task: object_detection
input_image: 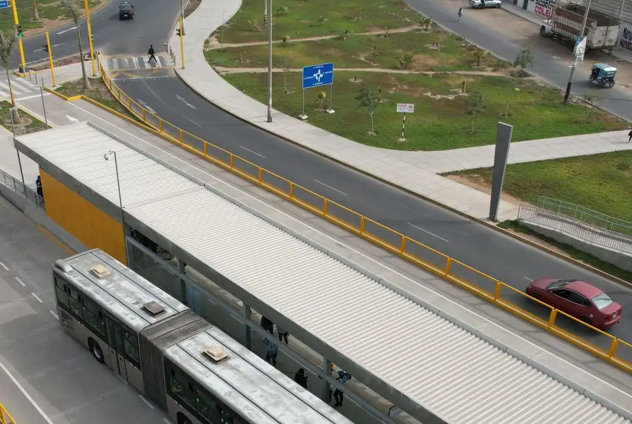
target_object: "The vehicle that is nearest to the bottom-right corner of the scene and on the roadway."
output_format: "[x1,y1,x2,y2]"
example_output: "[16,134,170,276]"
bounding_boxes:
[524,275,627,328]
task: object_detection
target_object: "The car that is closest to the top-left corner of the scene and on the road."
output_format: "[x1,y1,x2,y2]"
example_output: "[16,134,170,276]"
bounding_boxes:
[113,1,134,20]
